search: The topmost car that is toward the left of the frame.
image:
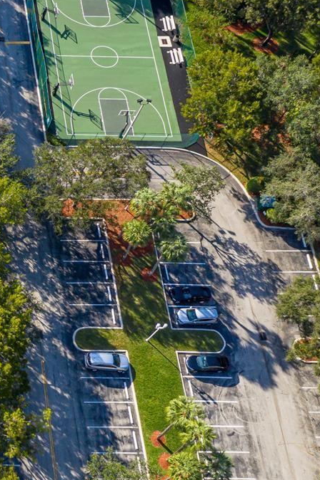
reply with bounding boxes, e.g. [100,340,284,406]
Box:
[86,351,130,372]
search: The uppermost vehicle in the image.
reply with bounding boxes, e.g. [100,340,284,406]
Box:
[169,286,216,306]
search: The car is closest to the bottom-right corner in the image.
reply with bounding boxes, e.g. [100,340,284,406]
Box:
[185,354,232,375]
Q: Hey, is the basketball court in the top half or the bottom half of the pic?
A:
top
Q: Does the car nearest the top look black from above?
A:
Yes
